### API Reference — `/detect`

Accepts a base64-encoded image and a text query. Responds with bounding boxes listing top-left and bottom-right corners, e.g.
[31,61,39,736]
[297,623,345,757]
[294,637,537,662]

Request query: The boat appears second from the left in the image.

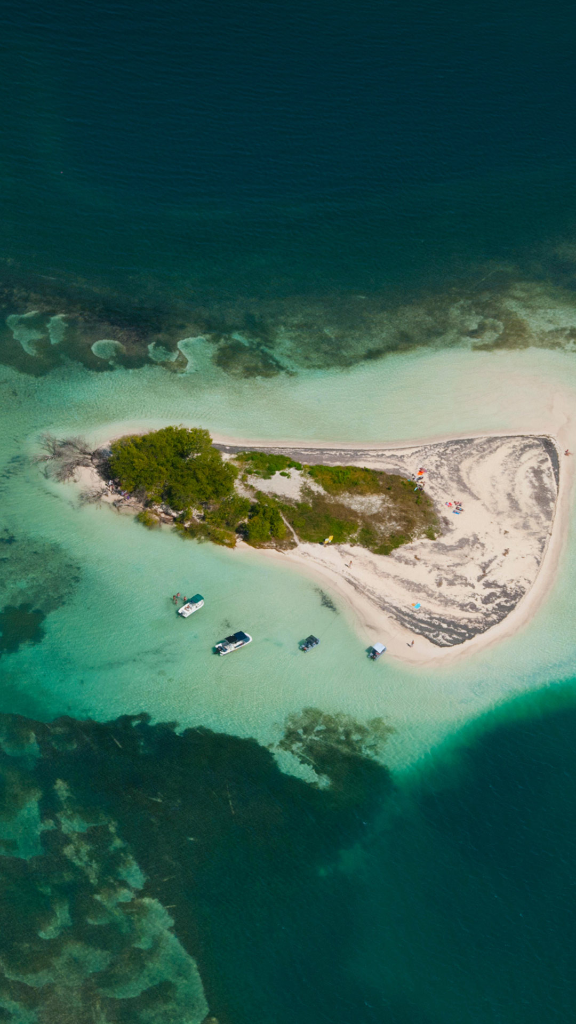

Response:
[215,632,252,656]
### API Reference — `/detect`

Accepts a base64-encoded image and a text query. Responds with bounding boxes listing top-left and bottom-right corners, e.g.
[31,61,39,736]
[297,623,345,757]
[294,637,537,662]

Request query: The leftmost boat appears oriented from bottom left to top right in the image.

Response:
[175,594,206,621]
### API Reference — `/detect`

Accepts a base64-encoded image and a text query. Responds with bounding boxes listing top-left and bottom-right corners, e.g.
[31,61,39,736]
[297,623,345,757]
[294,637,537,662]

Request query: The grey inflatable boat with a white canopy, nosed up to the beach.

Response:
[367,641,387,661]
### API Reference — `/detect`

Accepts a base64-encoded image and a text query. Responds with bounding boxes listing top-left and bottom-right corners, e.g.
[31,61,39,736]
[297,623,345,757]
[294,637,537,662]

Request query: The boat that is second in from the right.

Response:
[300,635,320,653]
